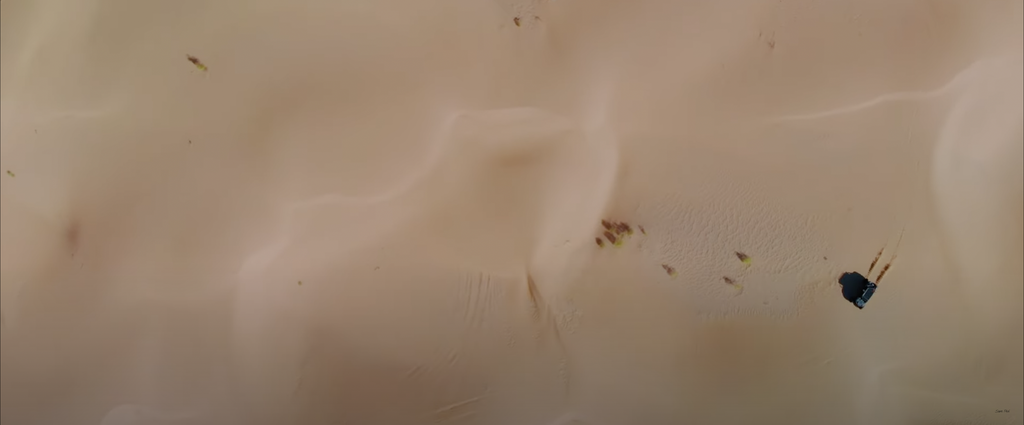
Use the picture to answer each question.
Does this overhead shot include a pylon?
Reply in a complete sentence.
No, the frame has no pylon in it.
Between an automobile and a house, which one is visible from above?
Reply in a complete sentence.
Looking from above, you can make out an automobile.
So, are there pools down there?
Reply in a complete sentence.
No, there appears to be no pool in this shot.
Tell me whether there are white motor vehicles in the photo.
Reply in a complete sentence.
No, there isn't any white motor vehicle down there.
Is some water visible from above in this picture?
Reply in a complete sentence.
No, water can't be seen anywhere here.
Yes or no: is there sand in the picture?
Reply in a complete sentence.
Yes, there is sand in the image.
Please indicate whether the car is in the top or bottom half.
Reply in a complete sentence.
It is in the bottom half that the car appears.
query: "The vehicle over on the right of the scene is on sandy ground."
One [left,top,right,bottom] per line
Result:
[853,280,879,309]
